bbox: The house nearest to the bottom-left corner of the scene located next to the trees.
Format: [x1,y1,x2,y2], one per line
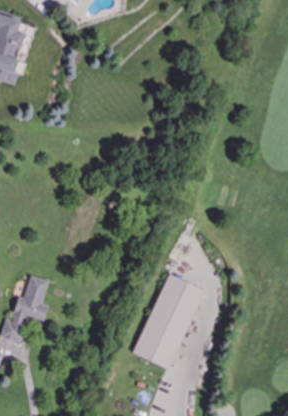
[0,274,52,348]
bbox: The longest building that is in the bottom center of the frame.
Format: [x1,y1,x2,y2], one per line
[135,275,202,368]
